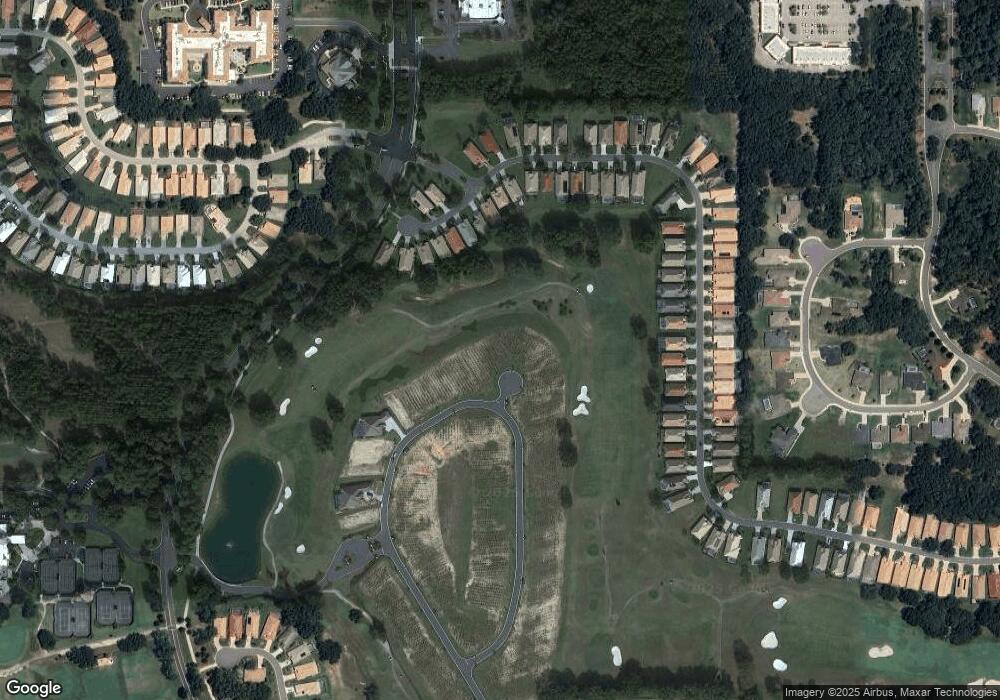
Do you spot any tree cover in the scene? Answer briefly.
Yes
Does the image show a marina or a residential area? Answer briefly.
residential area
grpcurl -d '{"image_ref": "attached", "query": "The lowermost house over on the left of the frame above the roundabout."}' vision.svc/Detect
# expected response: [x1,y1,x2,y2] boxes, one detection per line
[338,479,377,510]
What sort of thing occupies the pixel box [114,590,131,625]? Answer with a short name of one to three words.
tennis court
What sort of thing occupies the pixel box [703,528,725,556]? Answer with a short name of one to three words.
house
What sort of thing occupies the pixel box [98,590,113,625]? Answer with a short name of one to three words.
tennis court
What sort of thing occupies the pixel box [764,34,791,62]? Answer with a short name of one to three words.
building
